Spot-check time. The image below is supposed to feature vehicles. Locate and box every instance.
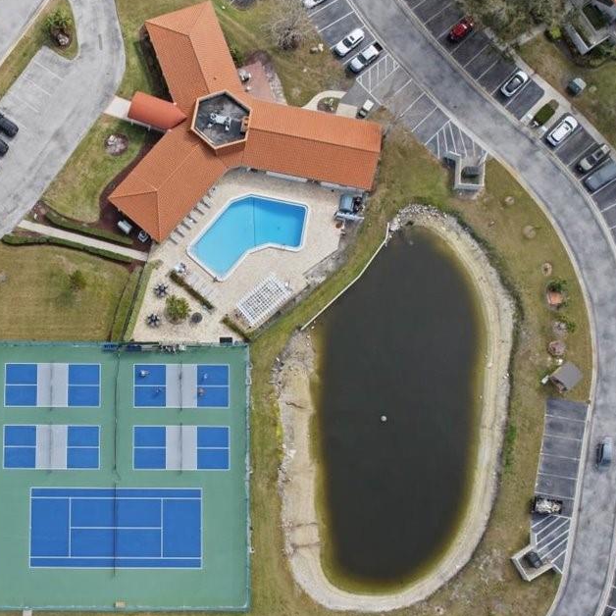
[0,110,21,137]
[501,68,532,98]
[579,143,614,170]
[334,24,369,55]
[301,0,323,9]
[548,114,583,145]
[360,95,377,116]
[351,39,386,71]
[448,18,475,43]
[0,138,10,155]
[598,437,616,470]
[587,159,616,188]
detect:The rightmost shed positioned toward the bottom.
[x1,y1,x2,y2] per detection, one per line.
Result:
[553,360,590,395]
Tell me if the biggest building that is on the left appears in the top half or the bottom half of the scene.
top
